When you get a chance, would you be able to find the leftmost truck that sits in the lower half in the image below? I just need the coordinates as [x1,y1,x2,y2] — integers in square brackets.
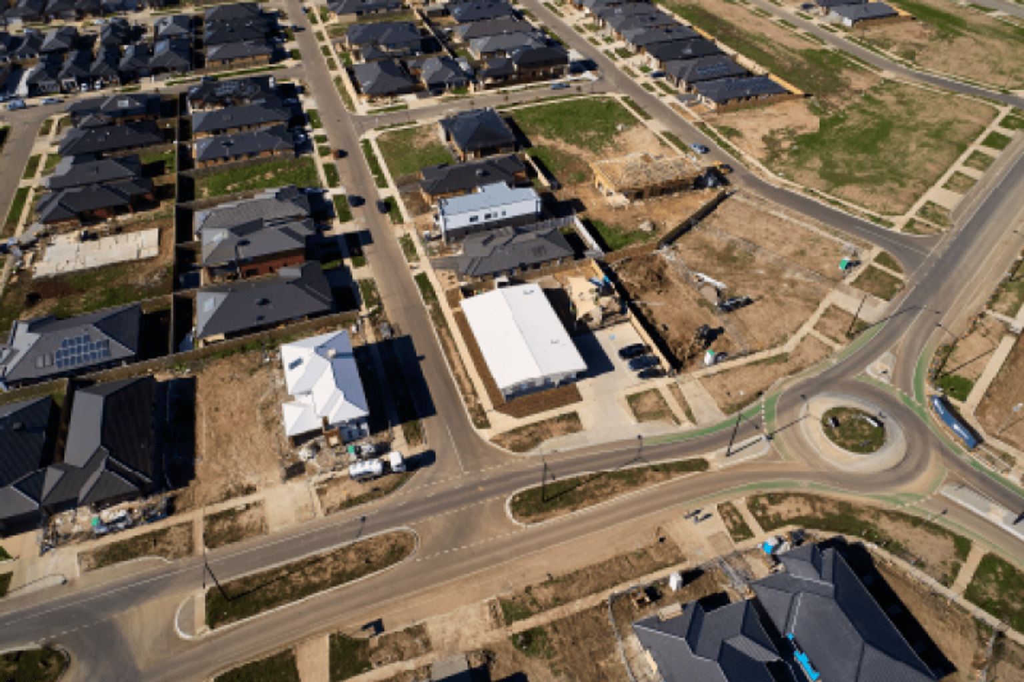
[349,456,407,486]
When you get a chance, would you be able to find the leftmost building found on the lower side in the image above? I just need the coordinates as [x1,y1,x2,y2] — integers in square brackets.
[0,395,59,531]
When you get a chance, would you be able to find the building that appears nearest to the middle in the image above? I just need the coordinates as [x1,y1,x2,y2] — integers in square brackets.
[453,281,587,402]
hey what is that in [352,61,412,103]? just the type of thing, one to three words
house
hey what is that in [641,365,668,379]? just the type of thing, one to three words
car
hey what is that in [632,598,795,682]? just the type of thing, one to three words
house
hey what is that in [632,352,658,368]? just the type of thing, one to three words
car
